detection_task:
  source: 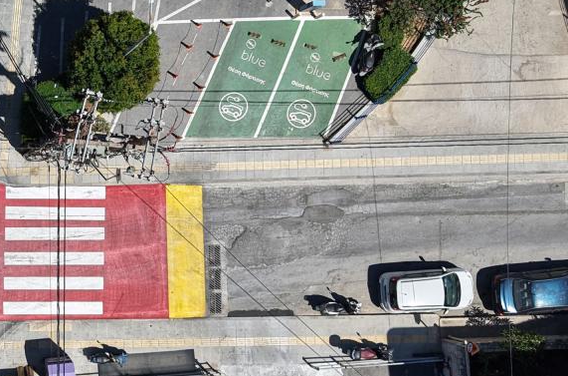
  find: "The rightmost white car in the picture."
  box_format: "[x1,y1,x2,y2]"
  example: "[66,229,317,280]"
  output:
[372,264,474,320]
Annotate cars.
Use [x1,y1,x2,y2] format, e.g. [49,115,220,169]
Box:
[488,269,568,314]
[372,264,474,320]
